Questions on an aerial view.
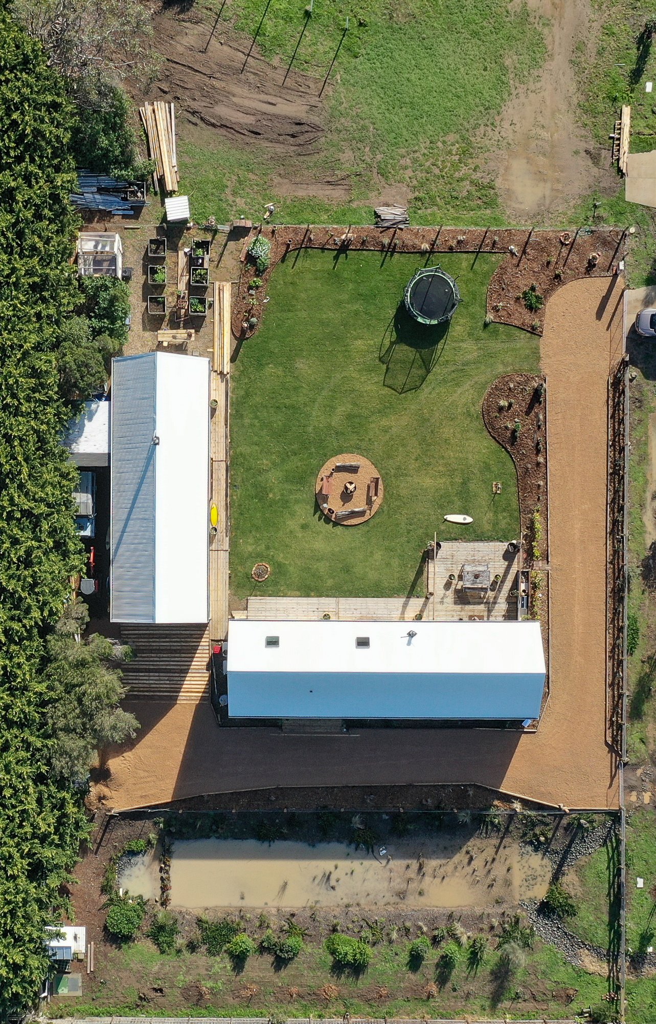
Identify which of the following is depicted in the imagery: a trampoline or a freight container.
trampoline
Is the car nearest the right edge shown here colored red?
No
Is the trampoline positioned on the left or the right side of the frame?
right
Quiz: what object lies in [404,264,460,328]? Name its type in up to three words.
trampoline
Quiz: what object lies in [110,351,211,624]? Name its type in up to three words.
shed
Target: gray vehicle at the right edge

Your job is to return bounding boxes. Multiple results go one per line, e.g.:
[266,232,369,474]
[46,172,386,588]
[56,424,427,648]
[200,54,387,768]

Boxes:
[632,308,656,339]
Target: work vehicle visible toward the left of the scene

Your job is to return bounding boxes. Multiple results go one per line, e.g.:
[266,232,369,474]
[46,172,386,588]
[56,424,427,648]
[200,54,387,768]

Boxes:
[78,550,102,591]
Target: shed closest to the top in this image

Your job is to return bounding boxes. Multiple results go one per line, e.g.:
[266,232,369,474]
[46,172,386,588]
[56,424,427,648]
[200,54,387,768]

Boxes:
[165,197,189,223]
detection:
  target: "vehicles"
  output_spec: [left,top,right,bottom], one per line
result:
[78,550,102,591]
[632,308,656,339]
